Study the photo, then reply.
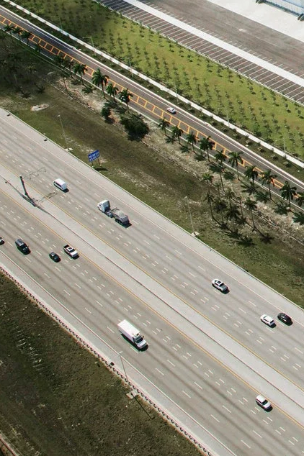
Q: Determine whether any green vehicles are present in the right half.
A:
No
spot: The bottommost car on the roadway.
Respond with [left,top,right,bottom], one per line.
[253,395,273,412]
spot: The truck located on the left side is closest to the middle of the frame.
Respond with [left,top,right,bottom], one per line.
[96,198,131,225]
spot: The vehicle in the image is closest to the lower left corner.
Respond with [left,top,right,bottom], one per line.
[116,319,146,349]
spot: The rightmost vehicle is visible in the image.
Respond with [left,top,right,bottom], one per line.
[276,314,294,327]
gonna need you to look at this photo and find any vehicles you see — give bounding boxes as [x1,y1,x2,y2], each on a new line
[52,180,67,191]
[116,319,146,349]
[60,245,78,259]
[46,252,60,263]
[211,281,227,294]
[96,198,131,225]
[165,107,176,115]
[259,316,276,330]
[276,314,294,327]
[253,395,273,412]
[14,241,29,254]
